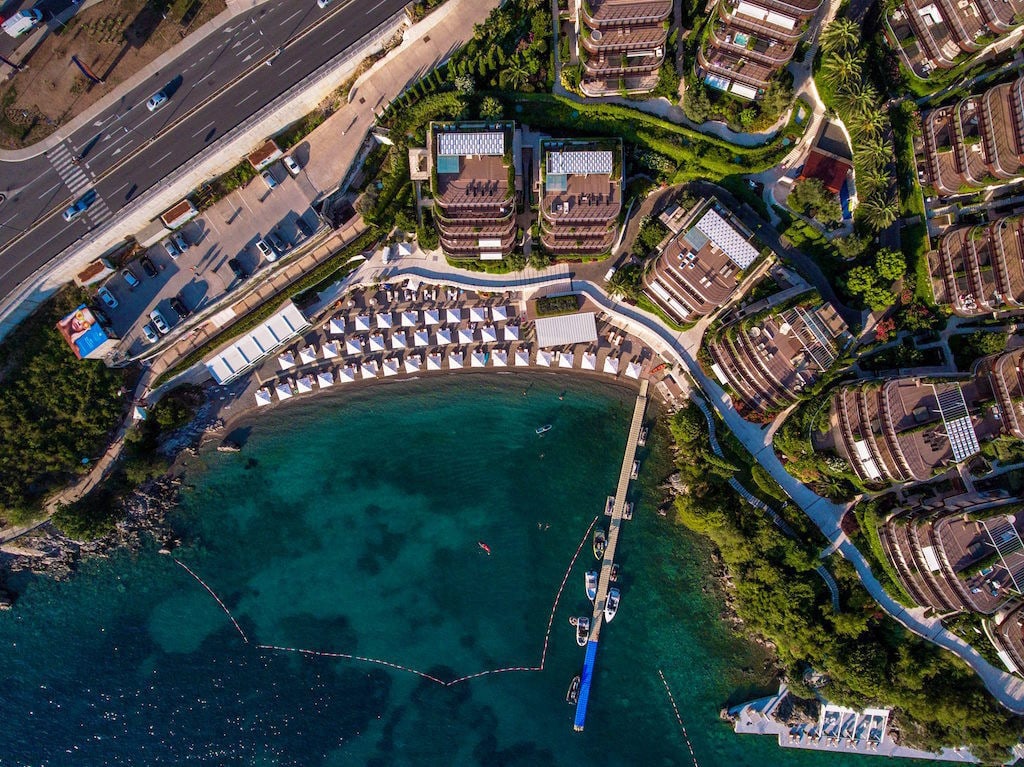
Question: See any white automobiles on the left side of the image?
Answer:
Yes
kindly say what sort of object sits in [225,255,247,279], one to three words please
car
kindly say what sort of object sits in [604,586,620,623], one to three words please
boat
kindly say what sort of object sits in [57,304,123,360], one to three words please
building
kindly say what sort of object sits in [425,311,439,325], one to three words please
umbrella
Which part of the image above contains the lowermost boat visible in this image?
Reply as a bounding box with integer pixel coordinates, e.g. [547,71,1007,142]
[566,676,581,706]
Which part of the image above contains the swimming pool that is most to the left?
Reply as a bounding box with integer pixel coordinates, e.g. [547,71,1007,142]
[439,157,458,172]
